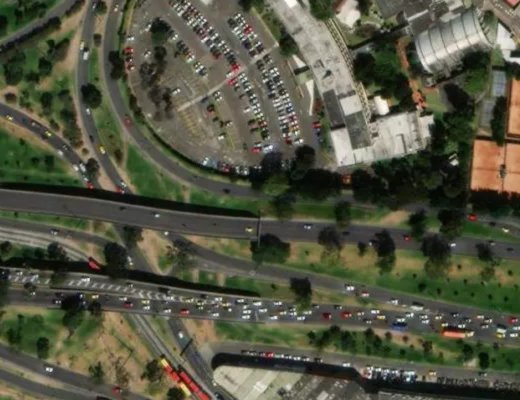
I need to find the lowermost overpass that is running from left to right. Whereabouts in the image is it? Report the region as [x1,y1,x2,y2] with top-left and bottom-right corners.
[0,267,262,323]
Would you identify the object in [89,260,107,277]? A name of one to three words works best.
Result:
vehicle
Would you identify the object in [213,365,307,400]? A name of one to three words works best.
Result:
building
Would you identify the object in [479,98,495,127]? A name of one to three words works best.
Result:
tennis court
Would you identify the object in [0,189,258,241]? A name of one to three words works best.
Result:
overpass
